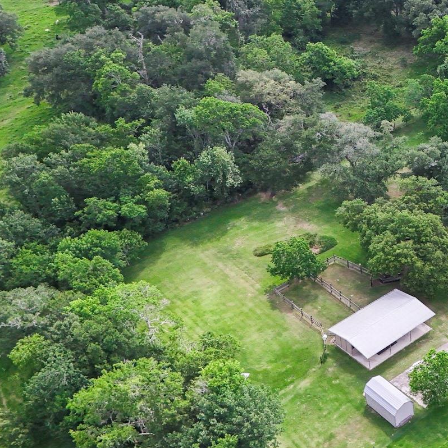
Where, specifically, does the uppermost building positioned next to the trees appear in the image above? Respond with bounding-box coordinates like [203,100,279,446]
[327,287,436,372]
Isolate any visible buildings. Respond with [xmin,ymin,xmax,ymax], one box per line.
[363,377,414,429]
[327,287,436,372]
